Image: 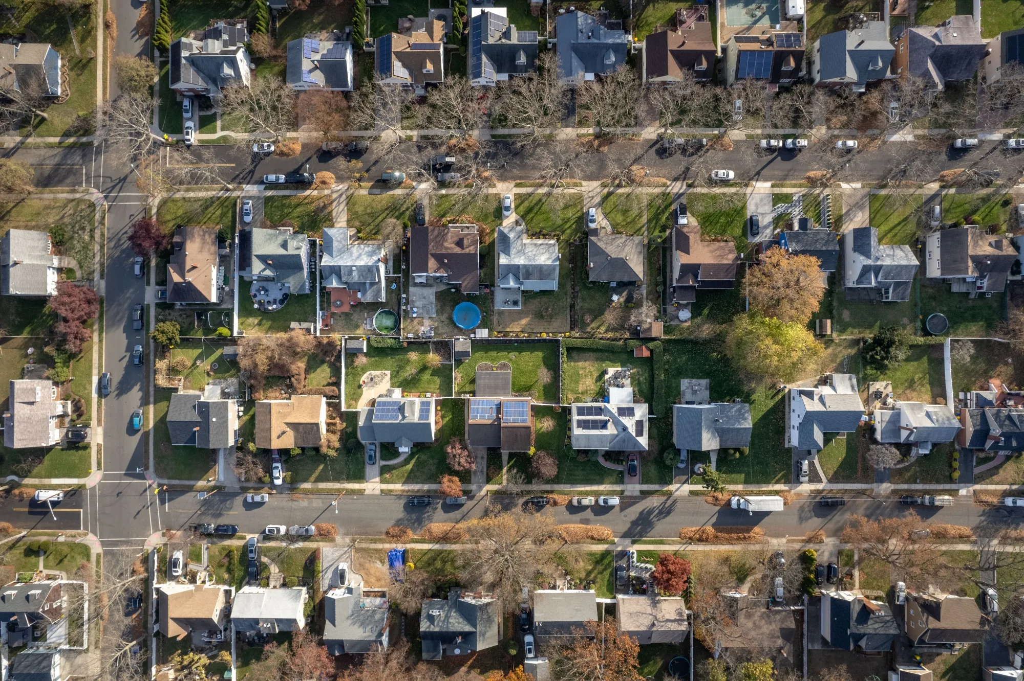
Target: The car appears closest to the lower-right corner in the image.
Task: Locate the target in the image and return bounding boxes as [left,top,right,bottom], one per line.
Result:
[984,588,997,611]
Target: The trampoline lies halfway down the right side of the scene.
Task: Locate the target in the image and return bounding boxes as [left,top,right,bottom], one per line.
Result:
[927,312,949,334]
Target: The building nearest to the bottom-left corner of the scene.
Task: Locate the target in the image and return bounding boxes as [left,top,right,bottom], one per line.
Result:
[7,650,60,681]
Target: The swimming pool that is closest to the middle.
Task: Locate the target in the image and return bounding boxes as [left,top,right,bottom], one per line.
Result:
[453,301,481,329]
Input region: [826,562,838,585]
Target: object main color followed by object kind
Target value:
black vehicle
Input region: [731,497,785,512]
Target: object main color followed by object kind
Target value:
white vehicle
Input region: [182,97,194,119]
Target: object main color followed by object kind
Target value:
blue vehicle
